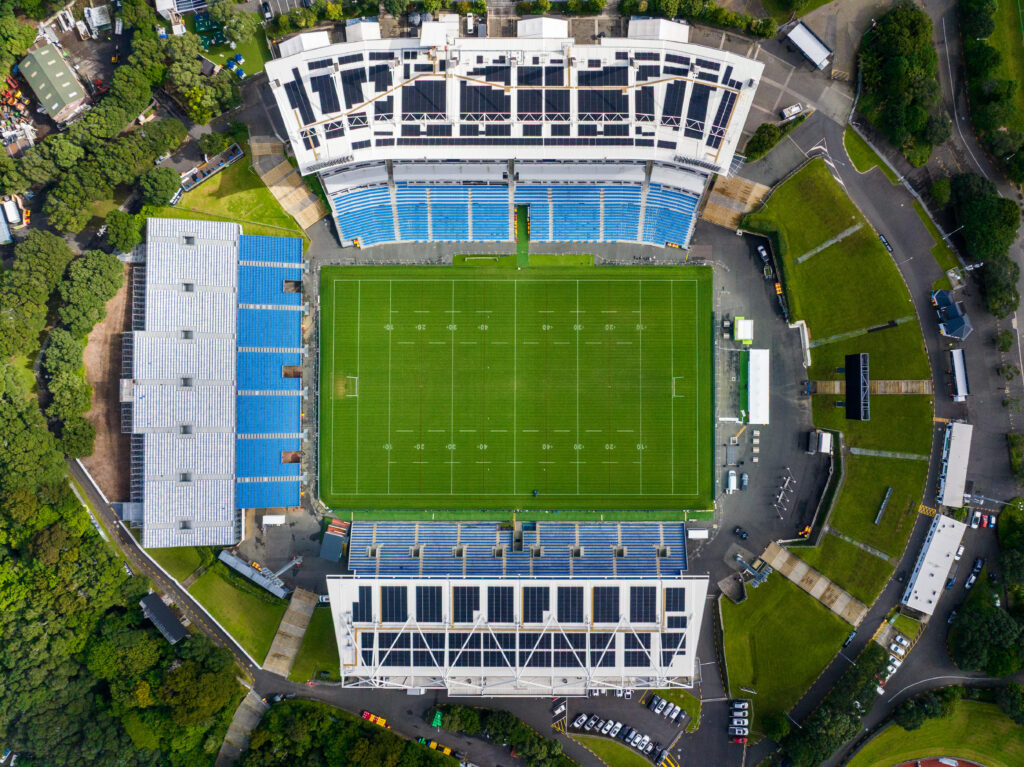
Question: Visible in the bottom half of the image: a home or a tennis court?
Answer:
home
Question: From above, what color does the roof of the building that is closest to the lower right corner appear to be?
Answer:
white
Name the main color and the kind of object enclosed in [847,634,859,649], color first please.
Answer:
black vehicle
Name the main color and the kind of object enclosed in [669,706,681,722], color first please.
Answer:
white vehicle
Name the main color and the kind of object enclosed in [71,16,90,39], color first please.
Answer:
white vehicle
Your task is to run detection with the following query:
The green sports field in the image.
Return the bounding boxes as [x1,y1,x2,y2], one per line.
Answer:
[319,266,713,510]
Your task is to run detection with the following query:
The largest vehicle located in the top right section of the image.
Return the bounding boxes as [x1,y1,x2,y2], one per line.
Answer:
[783,101,805,116]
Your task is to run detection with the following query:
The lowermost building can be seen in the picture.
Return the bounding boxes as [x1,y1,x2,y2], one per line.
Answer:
[140,589,194,645]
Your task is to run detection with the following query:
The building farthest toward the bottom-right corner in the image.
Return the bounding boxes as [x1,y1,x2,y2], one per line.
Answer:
[894,513,967,614]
